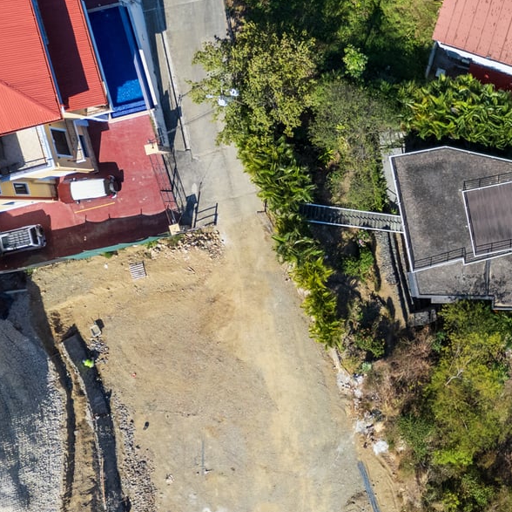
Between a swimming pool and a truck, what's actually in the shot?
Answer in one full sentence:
Looking from above, you can make out a swimming pool.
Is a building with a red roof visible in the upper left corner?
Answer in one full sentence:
Yes, a building with a red roof appears in the upper left corner.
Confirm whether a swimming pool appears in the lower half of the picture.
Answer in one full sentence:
No, in the lower half of the picture there is no swimming pool.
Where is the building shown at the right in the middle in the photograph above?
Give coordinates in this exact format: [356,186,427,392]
[389,146,512,310]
